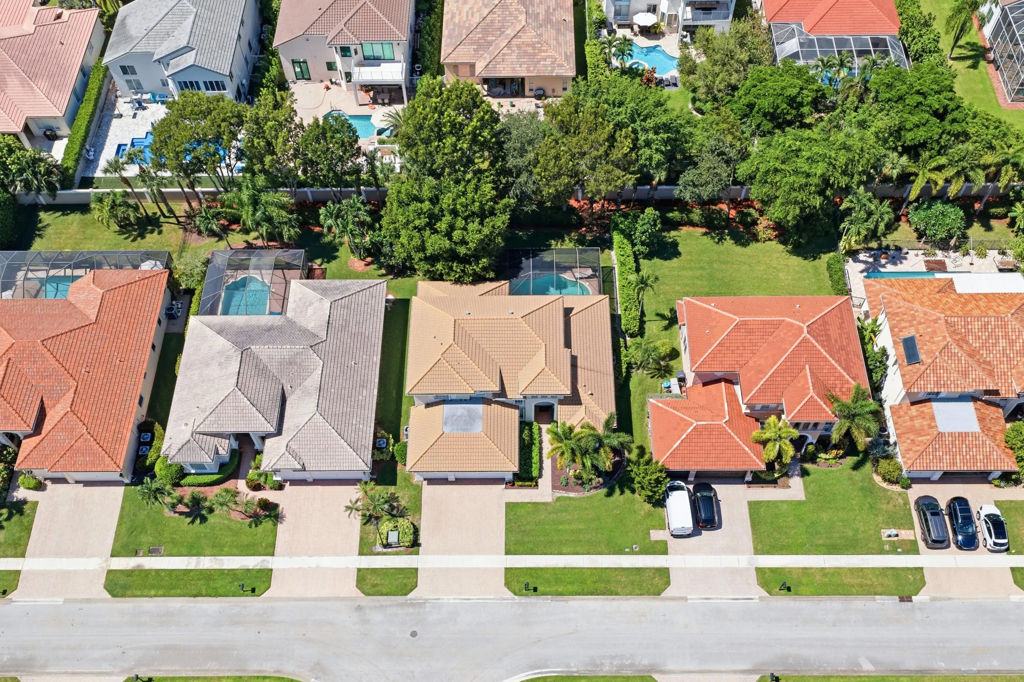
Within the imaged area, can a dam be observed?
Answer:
No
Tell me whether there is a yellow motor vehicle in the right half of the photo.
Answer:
No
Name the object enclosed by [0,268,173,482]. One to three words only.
house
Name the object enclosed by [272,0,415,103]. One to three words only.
house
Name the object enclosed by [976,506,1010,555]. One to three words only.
car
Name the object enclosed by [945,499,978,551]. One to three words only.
car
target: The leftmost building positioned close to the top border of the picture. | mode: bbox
[0,0,103,143]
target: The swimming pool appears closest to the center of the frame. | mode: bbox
[509,272,594,295]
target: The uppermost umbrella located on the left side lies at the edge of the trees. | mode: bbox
[371,113,390,133]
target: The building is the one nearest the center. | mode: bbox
[404,279,618,482]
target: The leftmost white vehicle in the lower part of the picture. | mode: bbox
[665,485,692,540]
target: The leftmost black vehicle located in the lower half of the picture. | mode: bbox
[693,484,718,534]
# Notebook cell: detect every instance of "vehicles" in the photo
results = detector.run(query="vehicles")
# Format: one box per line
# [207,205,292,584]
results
[976,506,1010,555]
[693,484,718,534]
[945,499,978,551]
[915,498,949,551]
[665,485,692,540]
